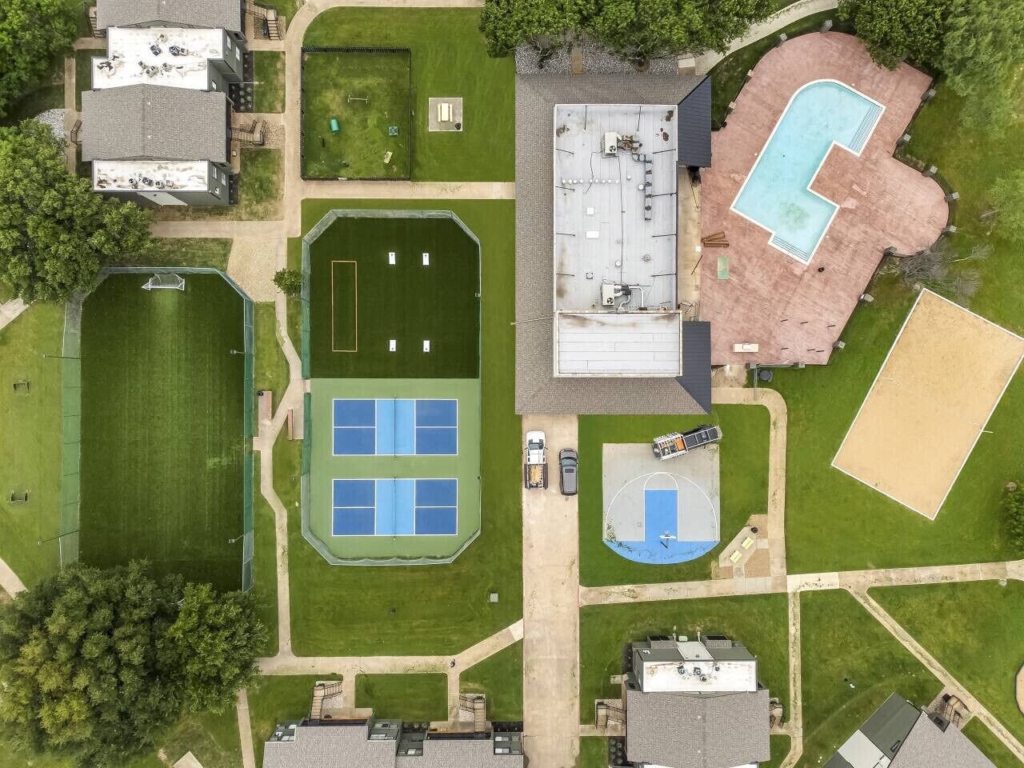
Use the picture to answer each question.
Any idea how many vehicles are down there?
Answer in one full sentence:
There are 3 vehicles in the image.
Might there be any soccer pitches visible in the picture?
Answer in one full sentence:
Yes, I can see a soccer pitch in this picture.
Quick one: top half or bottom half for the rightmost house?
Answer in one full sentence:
The bottom half of the photo is where the rightmost house is.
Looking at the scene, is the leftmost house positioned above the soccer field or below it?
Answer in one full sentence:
Relative to the soccer field, the leftmost house lies above it.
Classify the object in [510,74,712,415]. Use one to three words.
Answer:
building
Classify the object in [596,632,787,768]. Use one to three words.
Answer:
house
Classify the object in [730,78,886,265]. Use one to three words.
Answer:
swimming pool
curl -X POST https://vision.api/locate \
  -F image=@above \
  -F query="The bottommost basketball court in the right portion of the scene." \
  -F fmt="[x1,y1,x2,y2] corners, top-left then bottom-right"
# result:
[603,444,719,564]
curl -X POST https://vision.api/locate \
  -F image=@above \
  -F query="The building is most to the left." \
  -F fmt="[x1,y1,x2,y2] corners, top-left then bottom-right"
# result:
[65,0,281,205]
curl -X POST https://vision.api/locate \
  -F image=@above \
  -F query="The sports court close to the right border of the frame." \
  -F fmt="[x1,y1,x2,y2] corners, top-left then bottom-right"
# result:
[832,289,1024,519]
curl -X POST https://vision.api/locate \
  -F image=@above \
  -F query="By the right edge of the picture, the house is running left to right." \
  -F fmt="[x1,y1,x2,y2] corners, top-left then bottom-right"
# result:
[824,687,997,768]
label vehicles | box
[655,425,723,461]
[524,430,548,491]
[558,448,581,496]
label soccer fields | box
[81,273,254,611]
